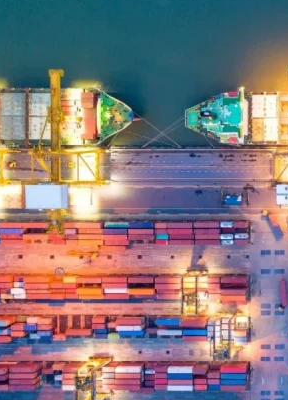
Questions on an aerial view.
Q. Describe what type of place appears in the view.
port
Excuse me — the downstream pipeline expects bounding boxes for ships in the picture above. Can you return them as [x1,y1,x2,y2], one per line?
[185,88,288,147]
[0,87,139,147]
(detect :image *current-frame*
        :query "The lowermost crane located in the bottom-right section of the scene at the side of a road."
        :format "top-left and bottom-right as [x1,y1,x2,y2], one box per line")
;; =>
[210,312,243,368]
